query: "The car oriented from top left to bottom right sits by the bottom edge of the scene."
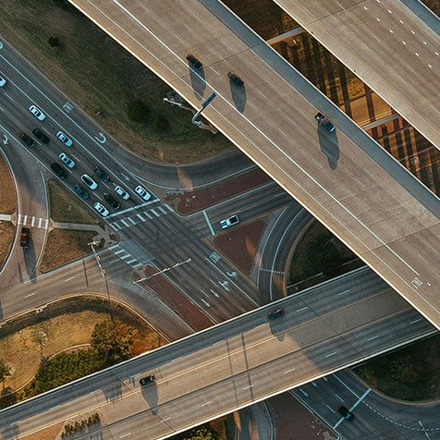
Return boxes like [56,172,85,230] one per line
[338,406,353,422]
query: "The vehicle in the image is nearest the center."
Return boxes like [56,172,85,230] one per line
[220,215,241,228]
